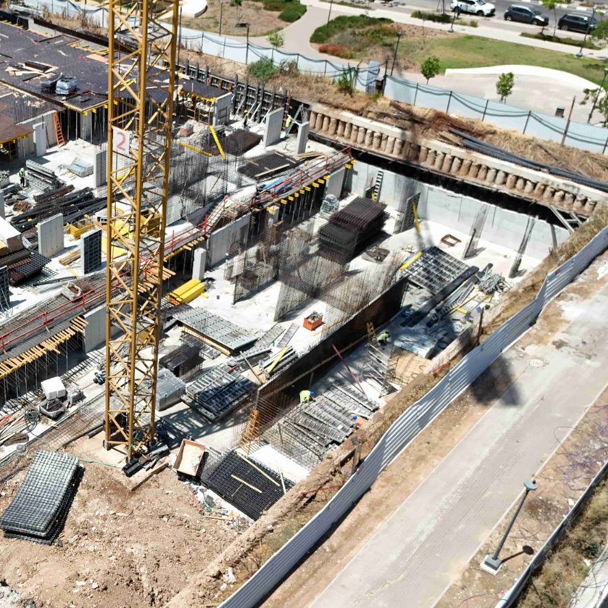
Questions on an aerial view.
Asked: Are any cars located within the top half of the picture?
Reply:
Yes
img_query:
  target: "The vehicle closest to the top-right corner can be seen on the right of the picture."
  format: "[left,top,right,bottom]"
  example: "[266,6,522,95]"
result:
[554,13,608,35]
